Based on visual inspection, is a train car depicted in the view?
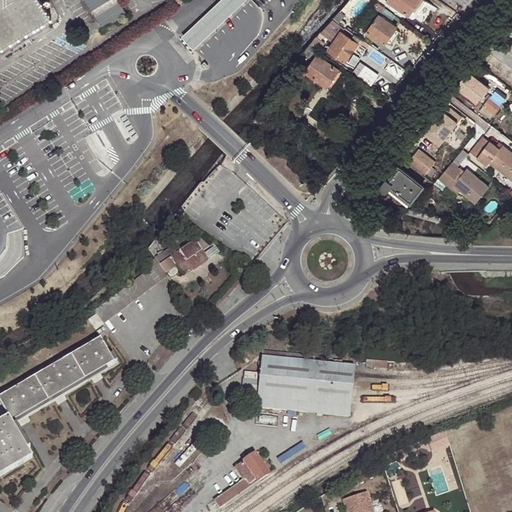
Yes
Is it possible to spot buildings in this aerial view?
Yes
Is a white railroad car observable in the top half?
No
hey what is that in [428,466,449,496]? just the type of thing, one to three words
swimming pool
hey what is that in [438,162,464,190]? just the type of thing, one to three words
house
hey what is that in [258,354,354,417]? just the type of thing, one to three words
building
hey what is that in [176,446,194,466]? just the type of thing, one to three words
rail car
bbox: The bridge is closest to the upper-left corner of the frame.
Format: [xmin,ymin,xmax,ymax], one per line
[206,121,246,157]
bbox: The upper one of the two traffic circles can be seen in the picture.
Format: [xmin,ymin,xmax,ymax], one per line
[126,44,168,86]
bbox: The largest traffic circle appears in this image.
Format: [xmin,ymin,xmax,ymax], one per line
[285,218,371,304]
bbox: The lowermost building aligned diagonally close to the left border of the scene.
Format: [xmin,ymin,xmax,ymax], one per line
[0,335,120,426]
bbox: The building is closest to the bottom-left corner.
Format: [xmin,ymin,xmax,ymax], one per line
[0,412,34,475]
